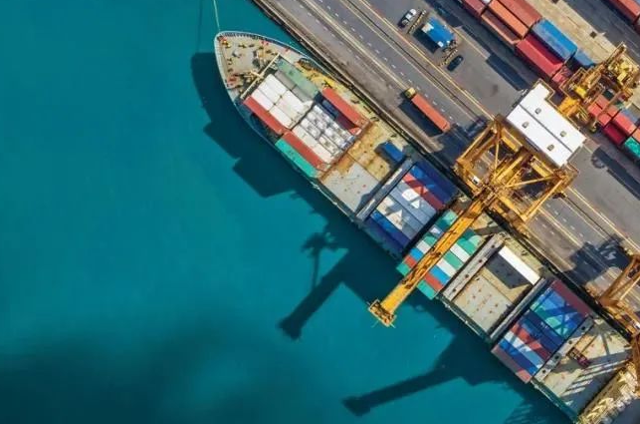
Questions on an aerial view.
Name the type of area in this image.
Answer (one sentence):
The picture captures a port.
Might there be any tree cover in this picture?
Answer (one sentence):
No, the scene doesn't show any tree cover.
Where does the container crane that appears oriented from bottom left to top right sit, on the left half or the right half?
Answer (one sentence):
The container crane that appears oriented from bottom left to top right sits on the right side.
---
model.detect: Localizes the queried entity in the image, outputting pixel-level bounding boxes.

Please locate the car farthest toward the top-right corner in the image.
[448,54,463,69]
